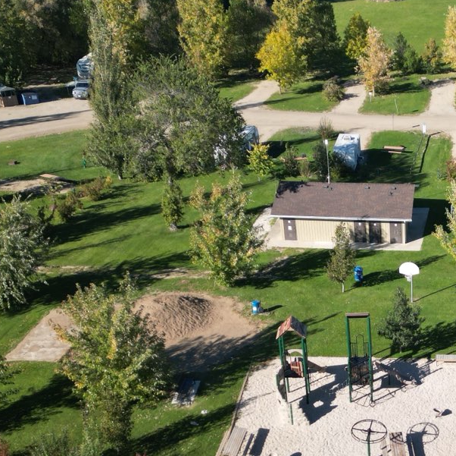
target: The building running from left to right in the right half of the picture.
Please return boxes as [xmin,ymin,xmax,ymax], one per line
[270,179,422,243]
